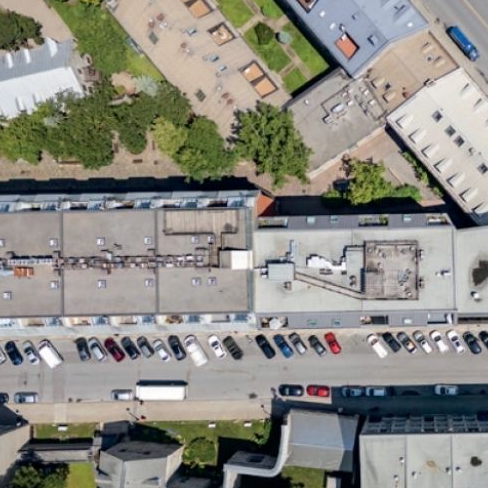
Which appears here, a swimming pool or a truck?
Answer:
truck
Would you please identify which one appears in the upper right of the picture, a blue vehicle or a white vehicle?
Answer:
blue vehicle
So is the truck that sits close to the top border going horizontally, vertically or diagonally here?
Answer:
diagonally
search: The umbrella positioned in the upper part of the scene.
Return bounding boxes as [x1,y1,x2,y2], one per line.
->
[277,30,291,43]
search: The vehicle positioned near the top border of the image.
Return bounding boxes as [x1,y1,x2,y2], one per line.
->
[445,23,480,62]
